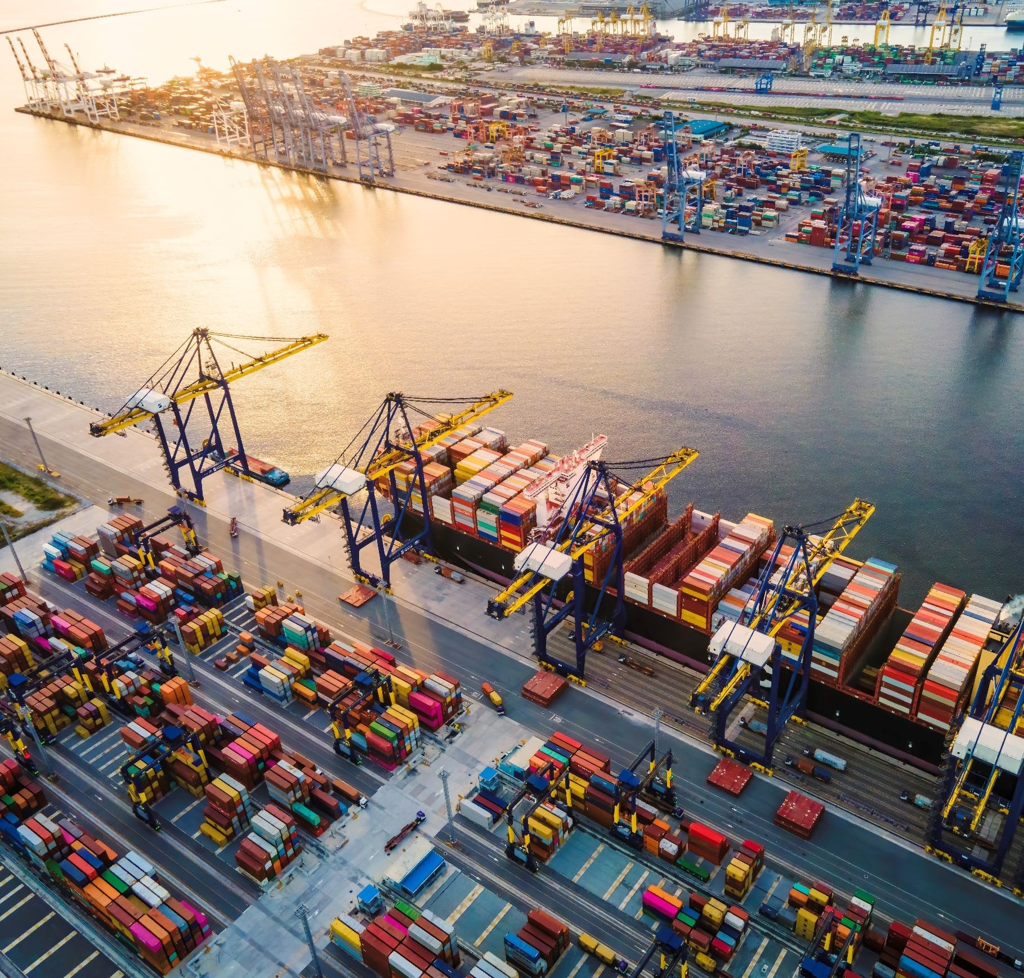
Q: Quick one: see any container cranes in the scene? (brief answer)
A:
Yes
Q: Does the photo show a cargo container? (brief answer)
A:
Yes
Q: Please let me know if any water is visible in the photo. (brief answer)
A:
Yes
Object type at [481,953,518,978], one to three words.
shipping container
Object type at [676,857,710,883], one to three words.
shipping container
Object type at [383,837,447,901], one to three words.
building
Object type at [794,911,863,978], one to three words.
container crane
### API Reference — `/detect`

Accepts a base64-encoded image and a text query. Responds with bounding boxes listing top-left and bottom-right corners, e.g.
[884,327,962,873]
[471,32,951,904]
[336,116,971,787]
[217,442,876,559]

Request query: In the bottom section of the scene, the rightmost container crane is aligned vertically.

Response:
[922,630,1024,882]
